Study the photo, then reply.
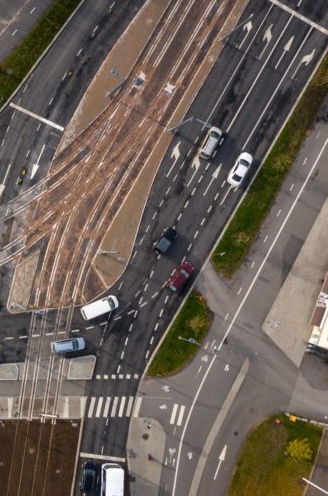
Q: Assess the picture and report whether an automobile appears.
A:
Yes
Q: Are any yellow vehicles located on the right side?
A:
No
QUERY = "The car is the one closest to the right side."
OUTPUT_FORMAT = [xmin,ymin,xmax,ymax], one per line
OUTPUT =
[226,151,254,187]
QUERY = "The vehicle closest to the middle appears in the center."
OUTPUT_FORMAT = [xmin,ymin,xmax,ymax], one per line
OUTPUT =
[150,226,178,255]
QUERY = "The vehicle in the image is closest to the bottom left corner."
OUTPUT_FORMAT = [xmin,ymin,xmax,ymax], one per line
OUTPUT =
[80,459,97,493]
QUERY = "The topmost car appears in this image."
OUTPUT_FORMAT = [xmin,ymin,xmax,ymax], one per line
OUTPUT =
[198,127,222,162]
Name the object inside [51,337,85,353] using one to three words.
car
